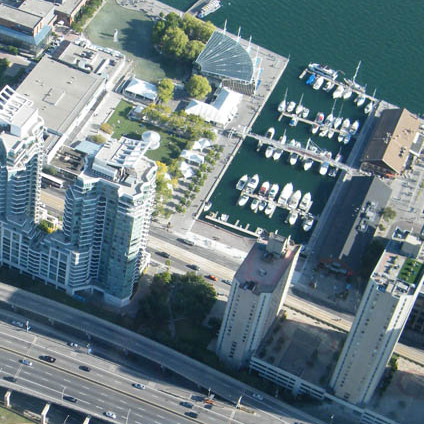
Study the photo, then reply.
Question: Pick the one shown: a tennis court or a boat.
boat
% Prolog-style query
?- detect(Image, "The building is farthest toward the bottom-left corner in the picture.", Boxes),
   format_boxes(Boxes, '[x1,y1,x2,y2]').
[0,210,96,294]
